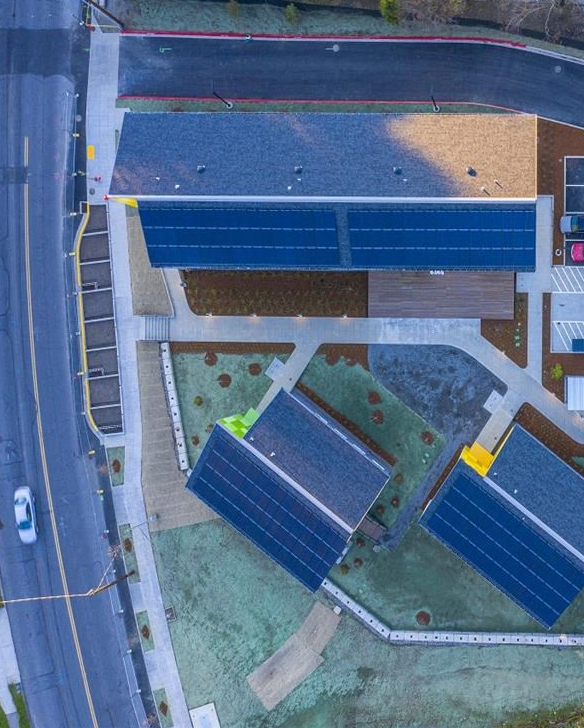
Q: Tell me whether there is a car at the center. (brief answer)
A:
No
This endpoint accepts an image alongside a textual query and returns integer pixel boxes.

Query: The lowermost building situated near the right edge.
[418,423,584,629]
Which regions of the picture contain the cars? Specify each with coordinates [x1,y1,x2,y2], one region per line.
[6,491,35,543]
[561,211,584,234]
[572,242,584,261]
